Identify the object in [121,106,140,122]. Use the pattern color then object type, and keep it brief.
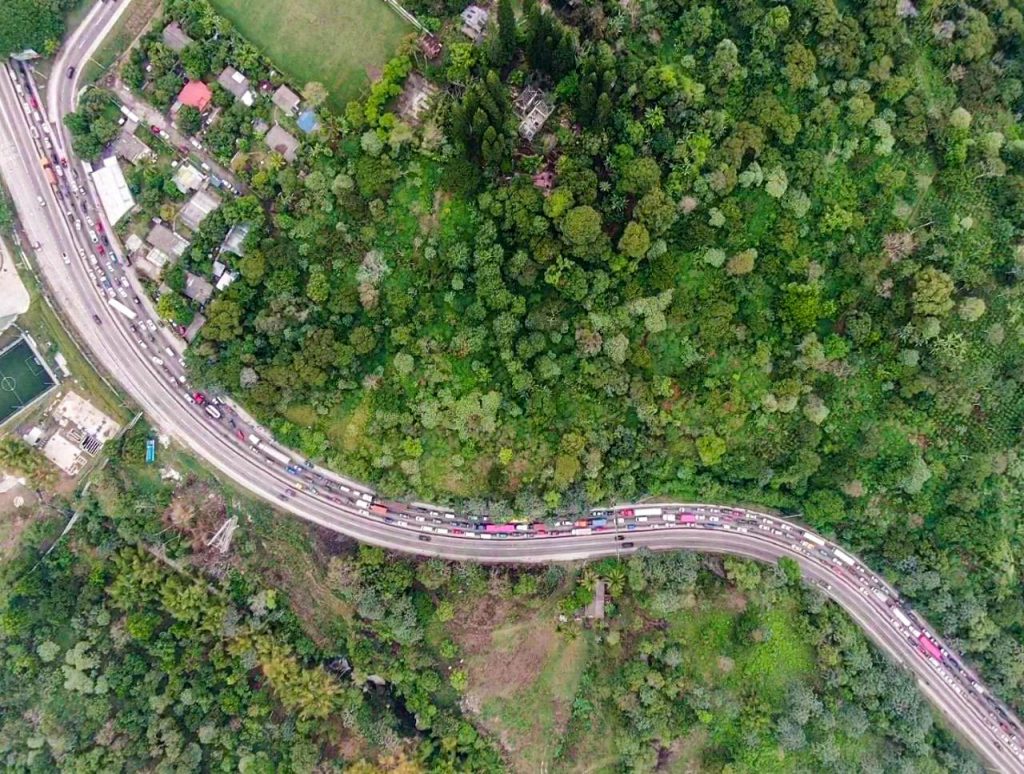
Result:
white vehicle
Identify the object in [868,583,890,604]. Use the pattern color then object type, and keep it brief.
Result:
white truck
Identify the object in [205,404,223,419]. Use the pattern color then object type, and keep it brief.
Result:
white vehicle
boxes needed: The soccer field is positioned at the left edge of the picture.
[0,339,57,425]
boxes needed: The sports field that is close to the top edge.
[214,0,416,114]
